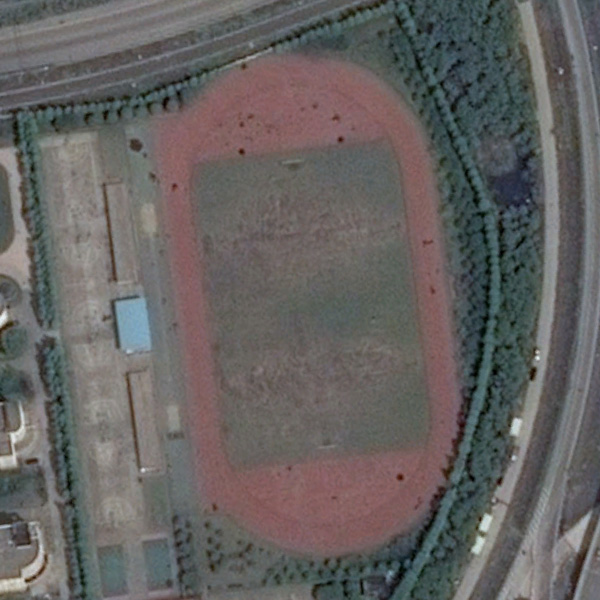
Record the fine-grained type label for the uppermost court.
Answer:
basketball court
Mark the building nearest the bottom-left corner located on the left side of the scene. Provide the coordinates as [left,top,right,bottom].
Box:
[0,523,43,594]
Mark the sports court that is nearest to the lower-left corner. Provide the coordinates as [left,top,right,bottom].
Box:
[93,540,131,600]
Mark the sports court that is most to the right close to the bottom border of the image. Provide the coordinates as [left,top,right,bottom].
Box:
[138,535,176,595]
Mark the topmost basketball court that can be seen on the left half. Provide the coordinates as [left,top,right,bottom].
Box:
[47,143,100,228]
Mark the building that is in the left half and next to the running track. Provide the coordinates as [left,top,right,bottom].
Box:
[115,296,152,357]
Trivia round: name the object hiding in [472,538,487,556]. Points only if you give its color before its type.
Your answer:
white vehicle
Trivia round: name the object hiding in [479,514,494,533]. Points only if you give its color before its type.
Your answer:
white vehicle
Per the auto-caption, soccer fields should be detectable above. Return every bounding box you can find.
[195,138,427,470]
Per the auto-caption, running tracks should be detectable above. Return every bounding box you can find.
[152,55,460,556]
